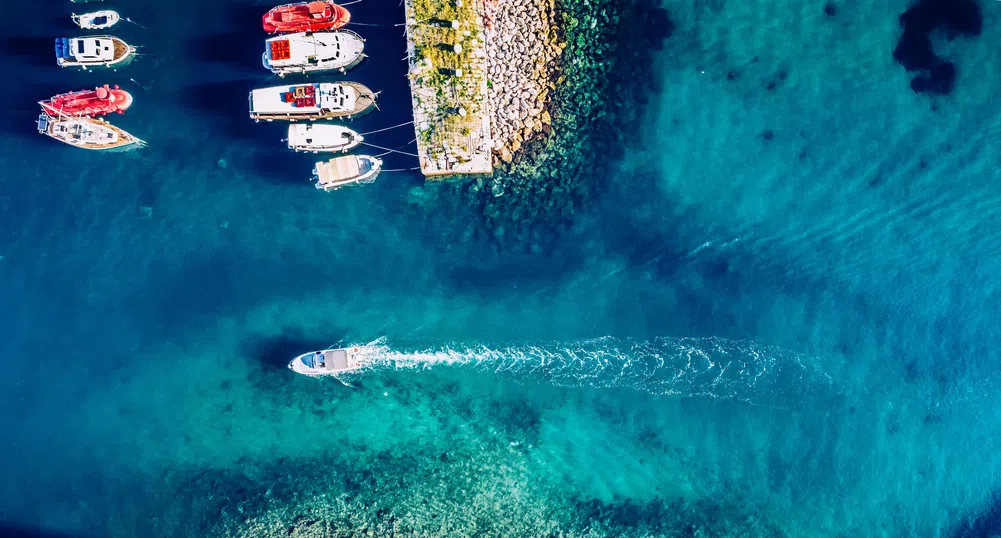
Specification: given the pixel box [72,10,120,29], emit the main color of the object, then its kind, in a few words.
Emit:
white boat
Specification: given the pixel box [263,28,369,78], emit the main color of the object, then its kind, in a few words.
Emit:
white boat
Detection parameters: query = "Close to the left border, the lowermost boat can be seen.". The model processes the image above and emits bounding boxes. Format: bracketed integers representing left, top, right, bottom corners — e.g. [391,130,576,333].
[35,102,149,150]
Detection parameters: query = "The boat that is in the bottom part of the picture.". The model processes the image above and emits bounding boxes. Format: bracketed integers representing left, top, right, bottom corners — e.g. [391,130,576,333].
[286,347,366,375]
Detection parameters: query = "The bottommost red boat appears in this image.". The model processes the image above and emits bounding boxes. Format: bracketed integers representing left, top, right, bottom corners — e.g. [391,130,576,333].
[38,84,136,117]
